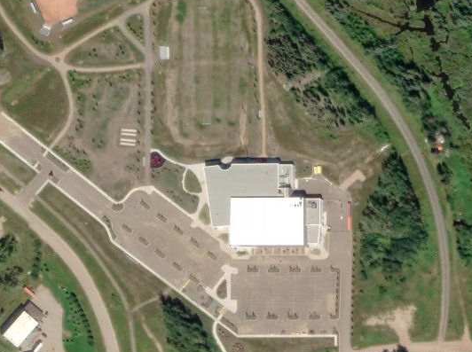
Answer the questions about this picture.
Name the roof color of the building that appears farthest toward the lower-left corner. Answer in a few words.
white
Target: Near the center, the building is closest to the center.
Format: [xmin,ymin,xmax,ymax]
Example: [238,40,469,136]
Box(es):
[205,163,320,247]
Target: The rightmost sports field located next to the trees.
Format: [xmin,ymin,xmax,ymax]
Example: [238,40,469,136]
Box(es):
[162,0,259,155]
